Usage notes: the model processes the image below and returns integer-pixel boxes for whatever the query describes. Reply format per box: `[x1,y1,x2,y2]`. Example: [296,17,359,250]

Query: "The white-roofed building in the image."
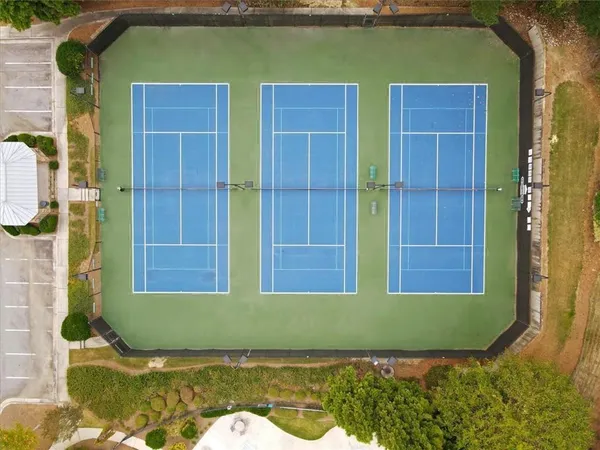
[0,142,49,226]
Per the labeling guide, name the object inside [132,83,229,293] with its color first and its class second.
blue tennis court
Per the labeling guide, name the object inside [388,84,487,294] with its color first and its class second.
blue tennis court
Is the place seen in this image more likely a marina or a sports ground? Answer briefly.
sports ground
